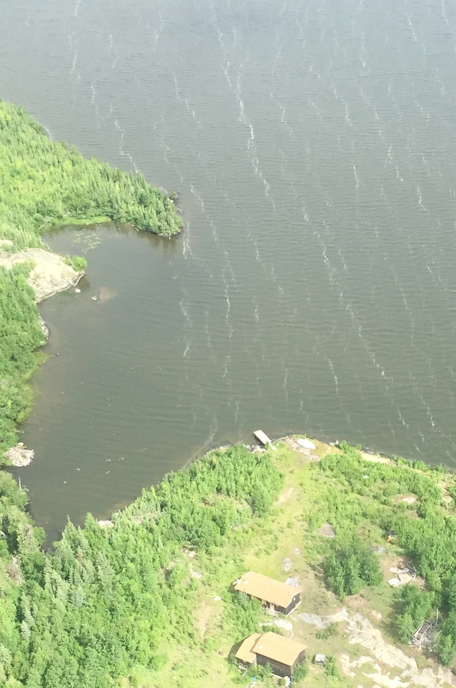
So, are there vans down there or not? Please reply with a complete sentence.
No, the scene contains no van.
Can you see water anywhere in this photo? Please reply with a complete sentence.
Yes, there is water in the image.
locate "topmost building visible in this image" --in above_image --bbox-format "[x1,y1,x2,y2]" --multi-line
[235,573,303,618]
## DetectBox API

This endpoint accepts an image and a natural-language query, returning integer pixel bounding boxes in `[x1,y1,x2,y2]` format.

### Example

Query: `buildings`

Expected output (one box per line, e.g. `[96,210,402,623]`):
[235,573,303,618]
[239,631,311,674]
[413,616,439,649]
